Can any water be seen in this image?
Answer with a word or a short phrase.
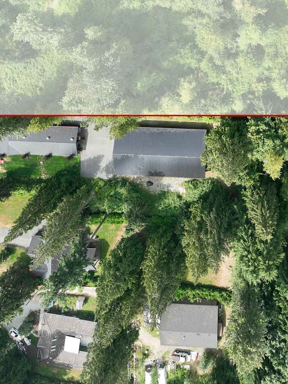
No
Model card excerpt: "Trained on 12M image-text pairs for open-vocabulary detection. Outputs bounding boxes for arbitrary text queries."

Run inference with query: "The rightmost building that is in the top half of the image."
[112,124,207,179]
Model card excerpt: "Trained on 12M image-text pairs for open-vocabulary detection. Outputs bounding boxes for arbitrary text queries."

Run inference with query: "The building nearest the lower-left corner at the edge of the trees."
[34,305,100,373]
